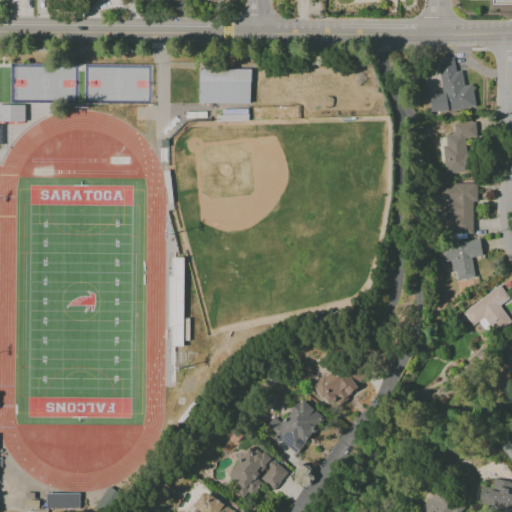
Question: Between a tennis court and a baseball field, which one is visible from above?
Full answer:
This aerial view contains a baseball field.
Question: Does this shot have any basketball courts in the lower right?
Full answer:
No, in the lower right there is no basketball court.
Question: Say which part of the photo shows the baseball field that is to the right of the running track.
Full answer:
The baseball field that is to the right of the running track appears toward the center of the photo.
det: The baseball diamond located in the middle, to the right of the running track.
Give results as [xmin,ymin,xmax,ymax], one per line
[173,113,396,338]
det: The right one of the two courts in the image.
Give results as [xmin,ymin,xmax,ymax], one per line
[86,64,152,103]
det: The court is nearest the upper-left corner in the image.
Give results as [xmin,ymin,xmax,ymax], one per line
[12,64,78,102]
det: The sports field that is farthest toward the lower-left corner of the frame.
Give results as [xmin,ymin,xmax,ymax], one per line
[16,178,147,425]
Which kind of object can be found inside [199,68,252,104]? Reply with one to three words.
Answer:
building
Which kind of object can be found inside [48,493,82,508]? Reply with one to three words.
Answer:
shed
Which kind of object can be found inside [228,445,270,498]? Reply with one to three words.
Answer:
house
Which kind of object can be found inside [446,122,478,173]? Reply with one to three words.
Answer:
house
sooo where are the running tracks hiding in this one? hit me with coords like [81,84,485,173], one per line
[0,111,166,492]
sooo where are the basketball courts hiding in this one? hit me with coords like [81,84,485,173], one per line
[12,64,78,102]
[86,64,152,103]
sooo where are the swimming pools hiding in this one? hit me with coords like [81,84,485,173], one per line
[214,458,232,480]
